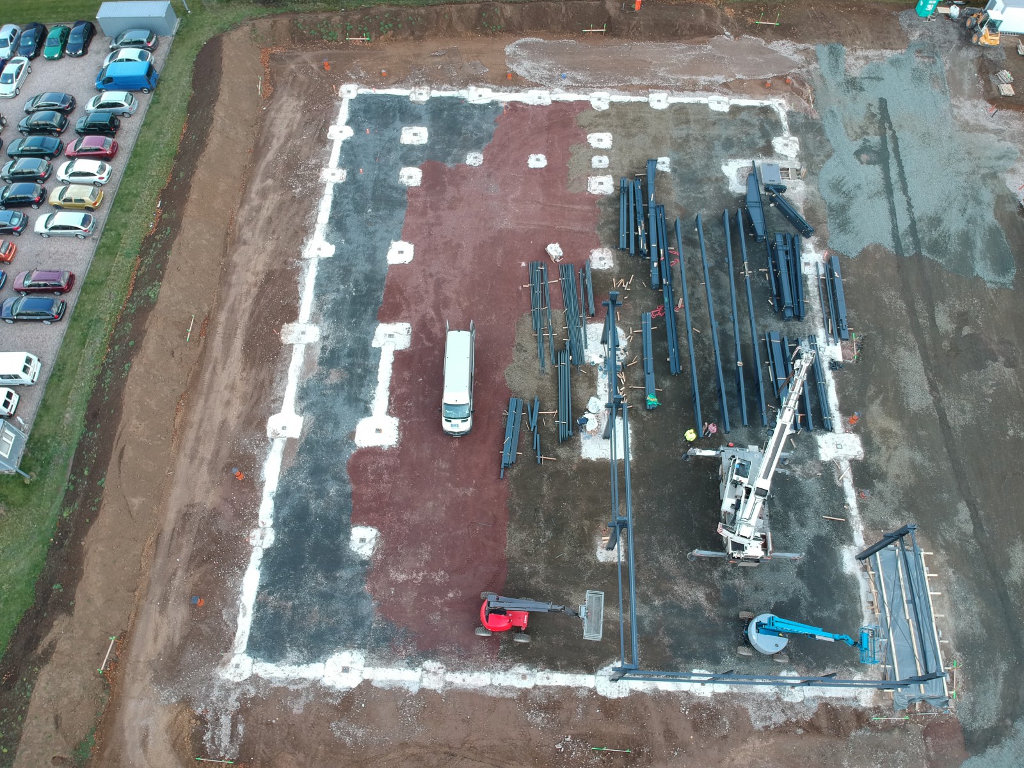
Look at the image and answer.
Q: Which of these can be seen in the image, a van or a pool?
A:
van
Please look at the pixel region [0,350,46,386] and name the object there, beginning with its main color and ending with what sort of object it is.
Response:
white van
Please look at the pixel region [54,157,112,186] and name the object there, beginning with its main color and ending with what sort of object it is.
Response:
white car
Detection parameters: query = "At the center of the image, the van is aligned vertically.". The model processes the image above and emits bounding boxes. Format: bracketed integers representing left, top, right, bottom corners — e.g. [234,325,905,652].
[439,314,478,426]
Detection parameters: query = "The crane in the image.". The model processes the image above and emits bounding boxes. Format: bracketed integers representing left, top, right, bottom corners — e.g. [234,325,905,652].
[681,344,821,577]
